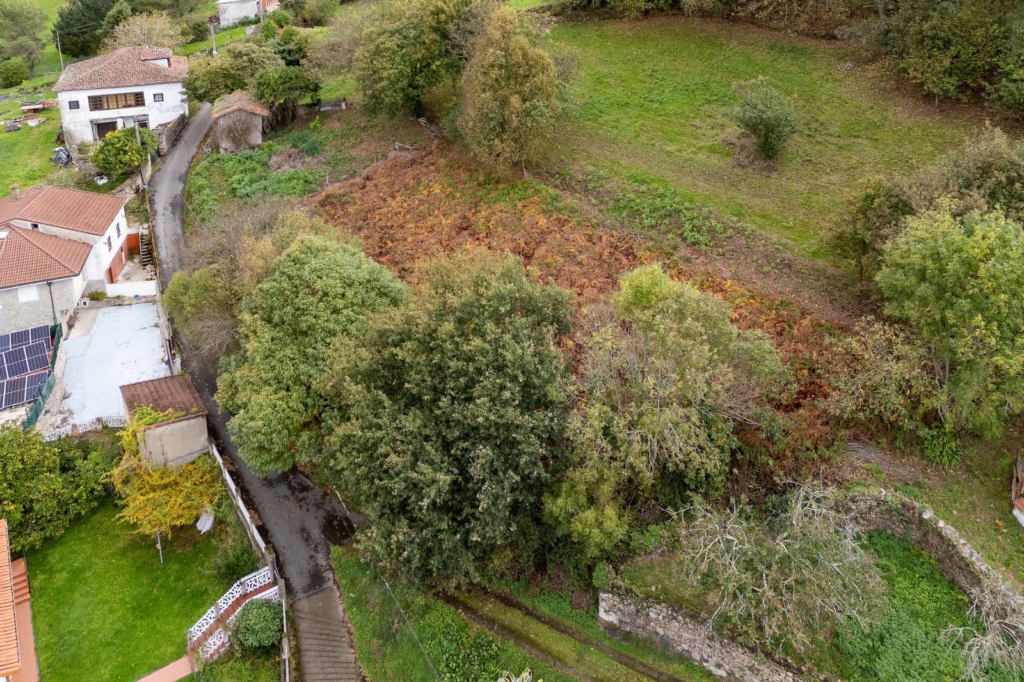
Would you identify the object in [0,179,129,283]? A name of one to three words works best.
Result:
house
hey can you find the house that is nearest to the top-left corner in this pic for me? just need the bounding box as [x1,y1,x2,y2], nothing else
[51,42,192,152]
